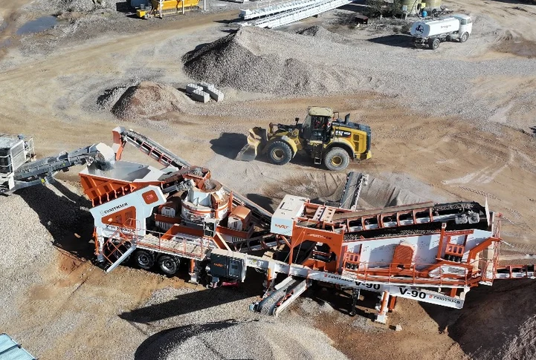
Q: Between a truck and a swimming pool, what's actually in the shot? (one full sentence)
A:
Looking from above, you can make out a truck.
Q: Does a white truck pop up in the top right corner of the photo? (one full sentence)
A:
Yes, in the top right corner of the photo there is a white truck.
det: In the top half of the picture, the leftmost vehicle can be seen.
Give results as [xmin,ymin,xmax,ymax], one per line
[233,102,377,170]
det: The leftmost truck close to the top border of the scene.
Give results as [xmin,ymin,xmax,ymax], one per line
[410,9,473,49]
